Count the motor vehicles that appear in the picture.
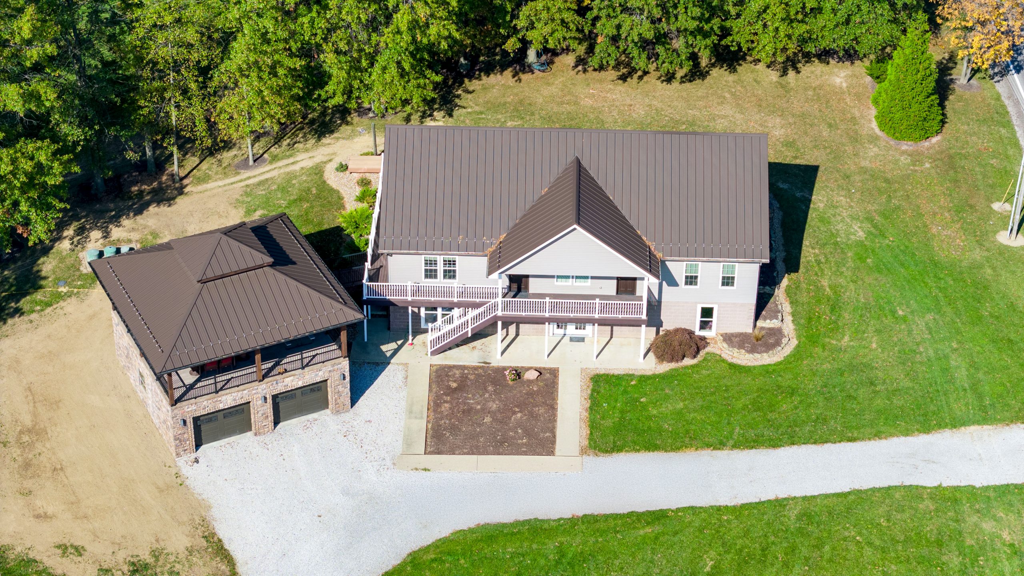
0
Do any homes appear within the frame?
Yes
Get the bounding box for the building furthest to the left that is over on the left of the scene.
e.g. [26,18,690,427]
[85,211,369,460]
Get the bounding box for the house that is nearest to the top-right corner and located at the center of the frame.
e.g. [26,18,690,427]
[362,124,769,361]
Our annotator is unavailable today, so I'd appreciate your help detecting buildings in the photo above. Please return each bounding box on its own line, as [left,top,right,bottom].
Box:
[362,124,769,361]
[85,211,369,460]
